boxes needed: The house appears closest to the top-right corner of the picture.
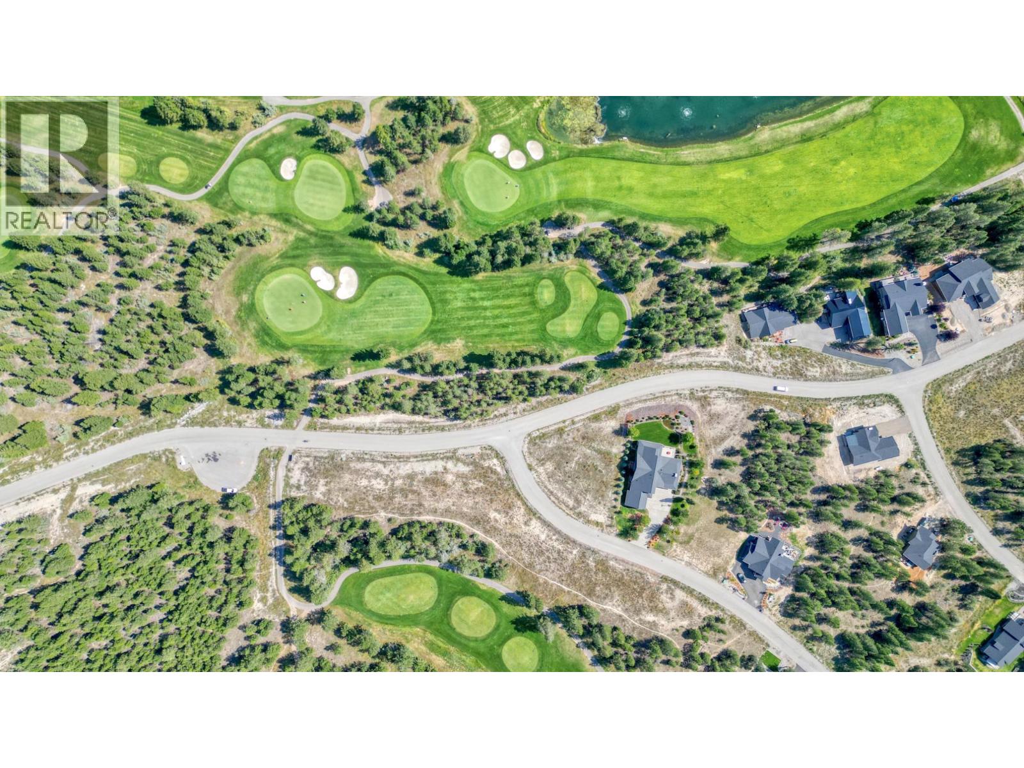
[930,258,999,307]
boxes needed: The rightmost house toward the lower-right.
[977,613,1024,667]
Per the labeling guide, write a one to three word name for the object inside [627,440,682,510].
house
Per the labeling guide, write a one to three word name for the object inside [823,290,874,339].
house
